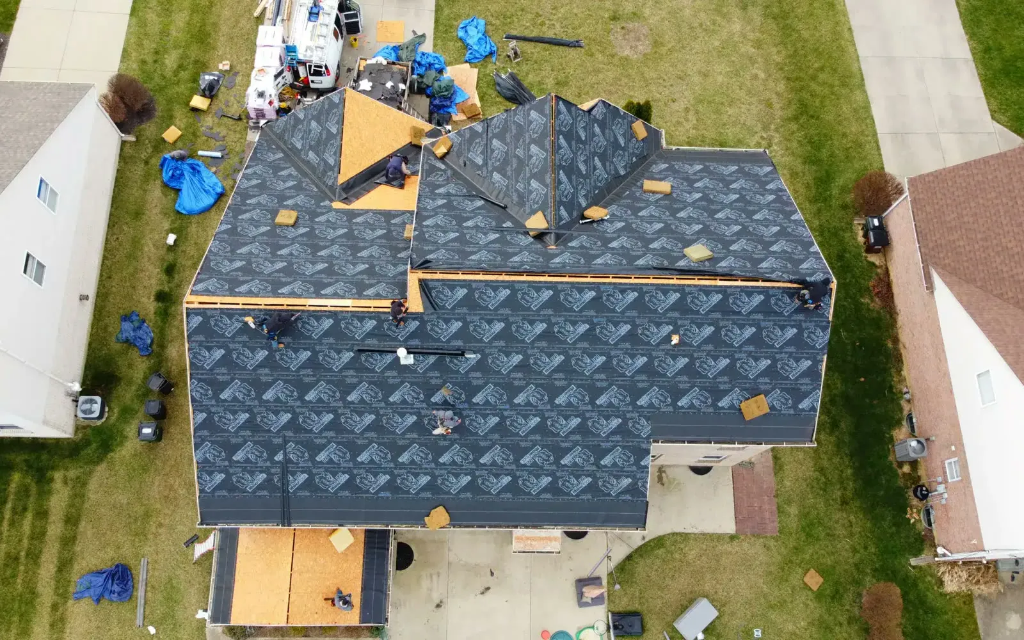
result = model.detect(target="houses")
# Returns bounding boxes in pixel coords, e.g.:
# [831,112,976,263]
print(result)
[185,89,835,553]
[883,144,1024,558]
[0,82,125,440]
